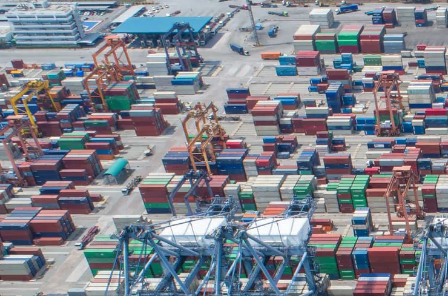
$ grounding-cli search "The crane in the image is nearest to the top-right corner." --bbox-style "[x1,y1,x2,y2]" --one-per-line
[370,76,405,135]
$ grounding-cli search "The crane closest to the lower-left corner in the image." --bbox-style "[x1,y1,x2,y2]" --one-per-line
[0,120,38,185]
